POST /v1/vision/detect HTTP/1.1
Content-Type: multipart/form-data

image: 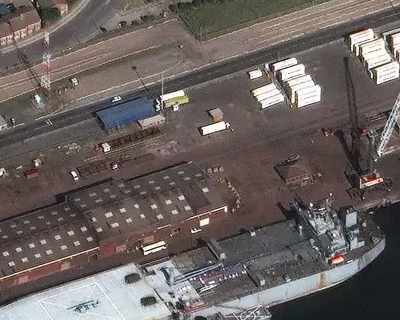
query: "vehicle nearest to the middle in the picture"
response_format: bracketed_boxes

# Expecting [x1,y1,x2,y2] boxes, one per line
[202,122,232,137]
